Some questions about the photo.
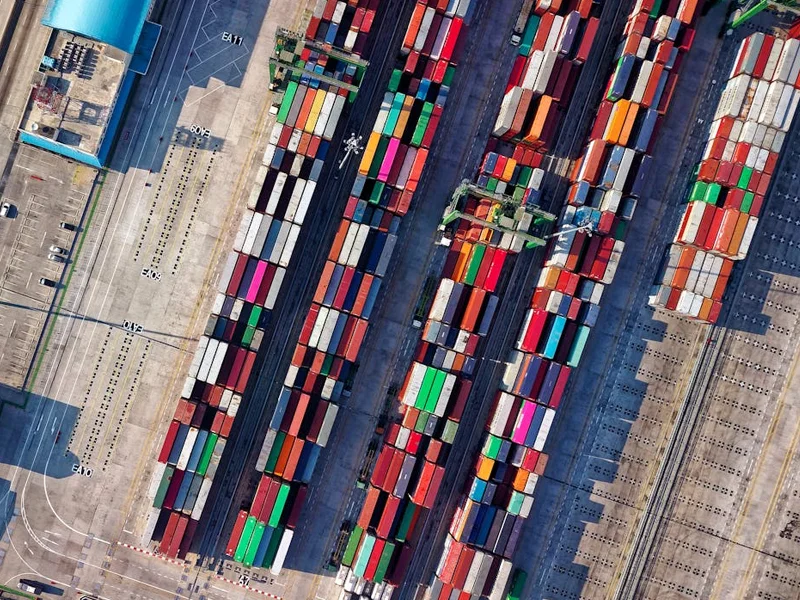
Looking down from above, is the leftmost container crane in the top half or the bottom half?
top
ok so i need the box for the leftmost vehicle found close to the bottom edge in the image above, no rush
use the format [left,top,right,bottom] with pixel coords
[20,580,52,599]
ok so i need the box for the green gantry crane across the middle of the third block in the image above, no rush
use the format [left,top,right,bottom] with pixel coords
[431,180,561,257]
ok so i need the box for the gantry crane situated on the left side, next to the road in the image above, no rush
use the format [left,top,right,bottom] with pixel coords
[265,26,373,119]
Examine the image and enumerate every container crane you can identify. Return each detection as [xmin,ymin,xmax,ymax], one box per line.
[265,26,373,119]
[714,0,800,41]
[431,180,561,257]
